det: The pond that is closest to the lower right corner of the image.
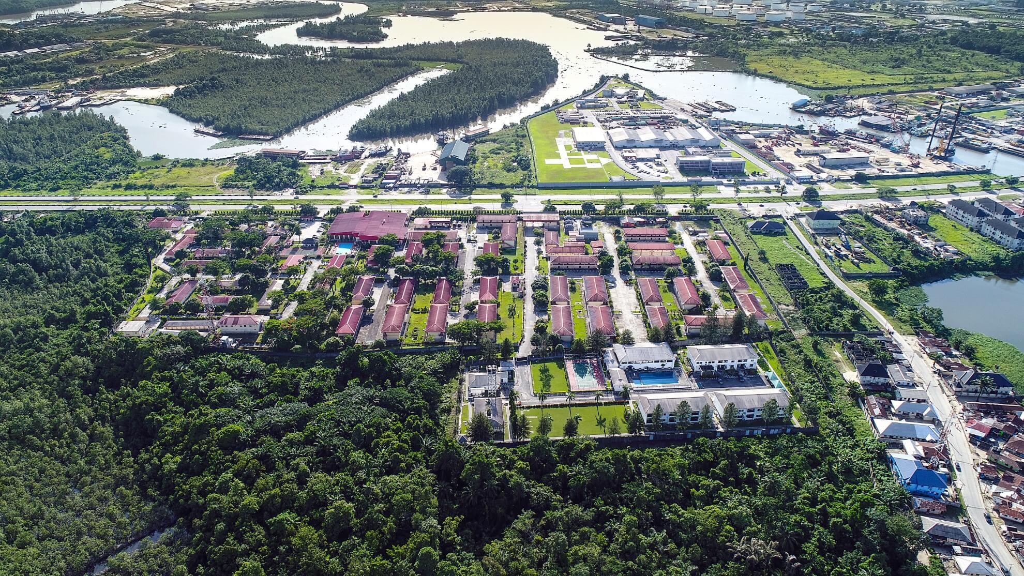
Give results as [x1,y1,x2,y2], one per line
[923,276,1024,351]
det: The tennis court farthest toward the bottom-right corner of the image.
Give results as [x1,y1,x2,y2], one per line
[565,351,607,390]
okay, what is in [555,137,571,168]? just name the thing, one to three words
helipad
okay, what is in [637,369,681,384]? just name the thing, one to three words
swimming pool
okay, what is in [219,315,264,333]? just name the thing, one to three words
house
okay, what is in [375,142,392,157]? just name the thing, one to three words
boat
